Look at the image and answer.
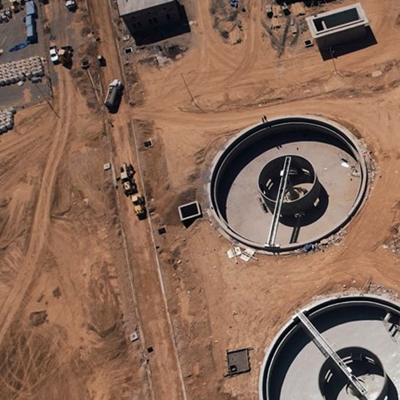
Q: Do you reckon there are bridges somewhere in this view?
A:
Yes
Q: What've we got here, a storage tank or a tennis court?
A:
storage tank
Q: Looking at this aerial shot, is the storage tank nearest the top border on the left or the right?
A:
right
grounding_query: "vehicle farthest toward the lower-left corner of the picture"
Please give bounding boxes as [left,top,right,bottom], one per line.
[128,191,147,220]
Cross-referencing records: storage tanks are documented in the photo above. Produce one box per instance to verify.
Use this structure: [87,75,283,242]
[207,116,371,253]
[255,294,400,400]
